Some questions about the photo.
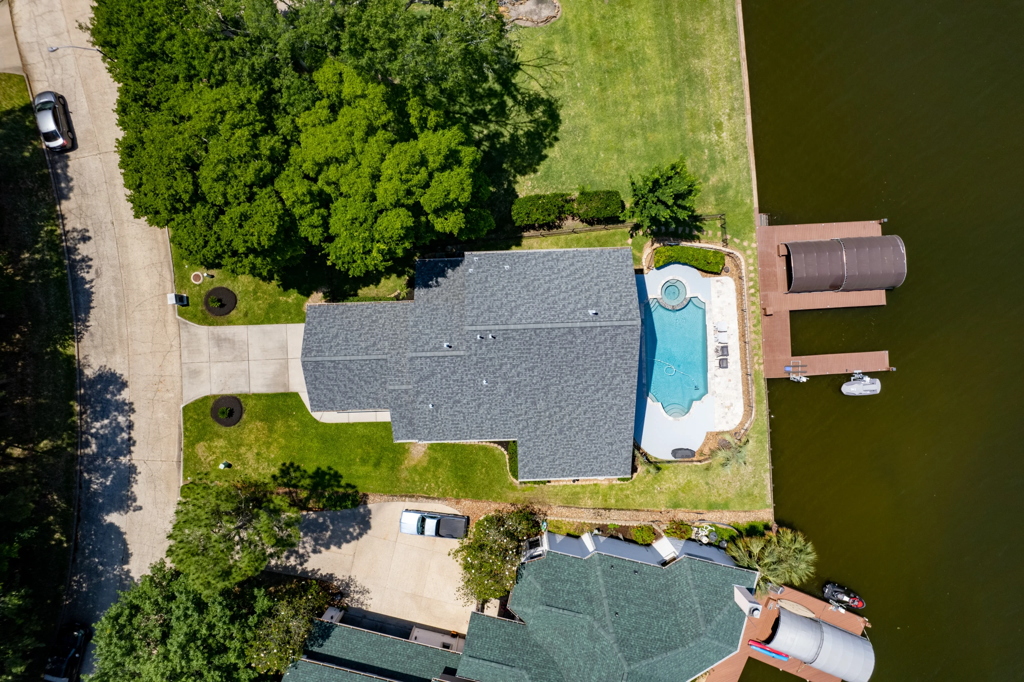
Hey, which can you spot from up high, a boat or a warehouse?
boat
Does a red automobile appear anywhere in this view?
No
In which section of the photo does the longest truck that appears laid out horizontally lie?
bottom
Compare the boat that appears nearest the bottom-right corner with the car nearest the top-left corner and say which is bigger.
the car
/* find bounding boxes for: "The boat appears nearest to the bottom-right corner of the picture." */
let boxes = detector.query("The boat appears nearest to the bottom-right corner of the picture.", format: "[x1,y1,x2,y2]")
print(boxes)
[825,584,867,612]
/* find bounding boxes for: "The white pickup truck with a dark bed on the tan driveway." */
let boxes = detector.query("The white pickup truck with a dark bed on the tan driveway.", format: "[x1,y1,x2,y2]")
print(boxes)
[394,510,471,543]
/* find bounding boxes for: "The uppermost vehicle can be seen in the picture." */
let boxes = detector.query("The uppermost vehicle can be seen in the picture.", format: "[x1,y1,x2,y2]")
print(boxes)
[31,88,71,152]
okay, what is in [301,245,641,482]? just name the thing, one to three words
house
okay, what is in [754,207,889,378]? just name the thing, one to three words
pier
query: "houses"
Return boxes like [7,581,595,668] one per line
[301,245,641,482]
[281,529,762,682]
